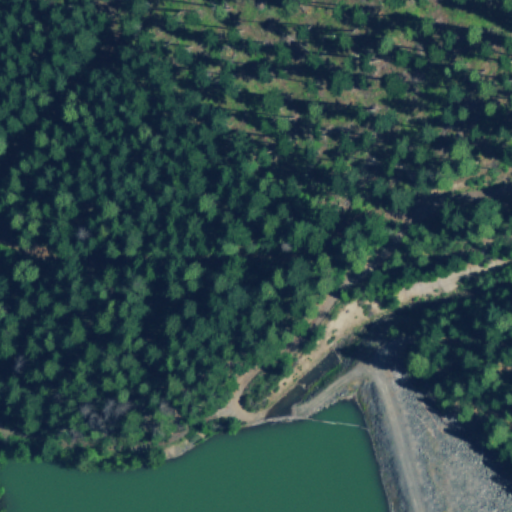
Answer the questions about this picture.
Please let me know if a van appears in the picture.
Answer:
No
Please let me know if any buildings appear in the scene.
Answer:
No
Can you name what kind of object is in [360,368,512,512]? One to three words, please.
dam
